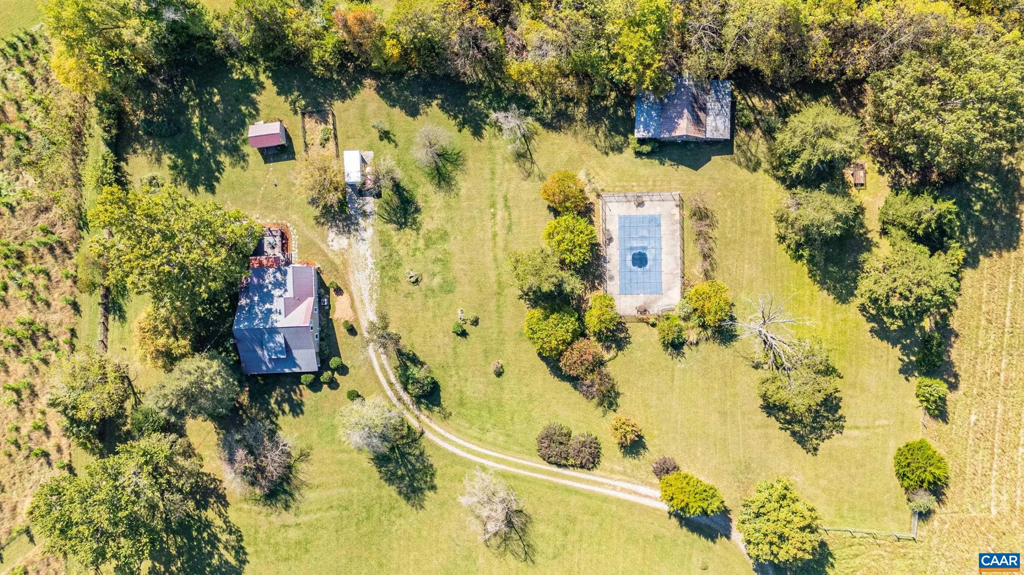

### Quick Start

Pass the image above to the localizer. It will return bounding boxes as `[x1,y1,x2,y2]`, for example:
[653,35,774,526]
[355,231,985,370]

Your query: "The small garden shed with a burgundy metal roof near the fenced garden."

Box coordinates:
[242,119,284,155]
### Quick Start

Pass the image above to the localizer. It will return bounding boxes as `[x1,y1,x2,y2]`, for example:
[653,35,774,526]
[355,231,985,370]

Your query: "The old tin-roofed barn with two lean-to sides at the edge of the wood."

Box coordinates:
[632,72,728,141]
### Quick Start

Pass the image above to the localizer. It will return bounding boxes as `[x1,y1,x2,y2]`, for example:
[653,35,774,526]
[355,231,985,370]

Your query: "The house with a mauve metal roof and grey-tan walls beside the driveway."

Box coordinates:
[231,256,323,375]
